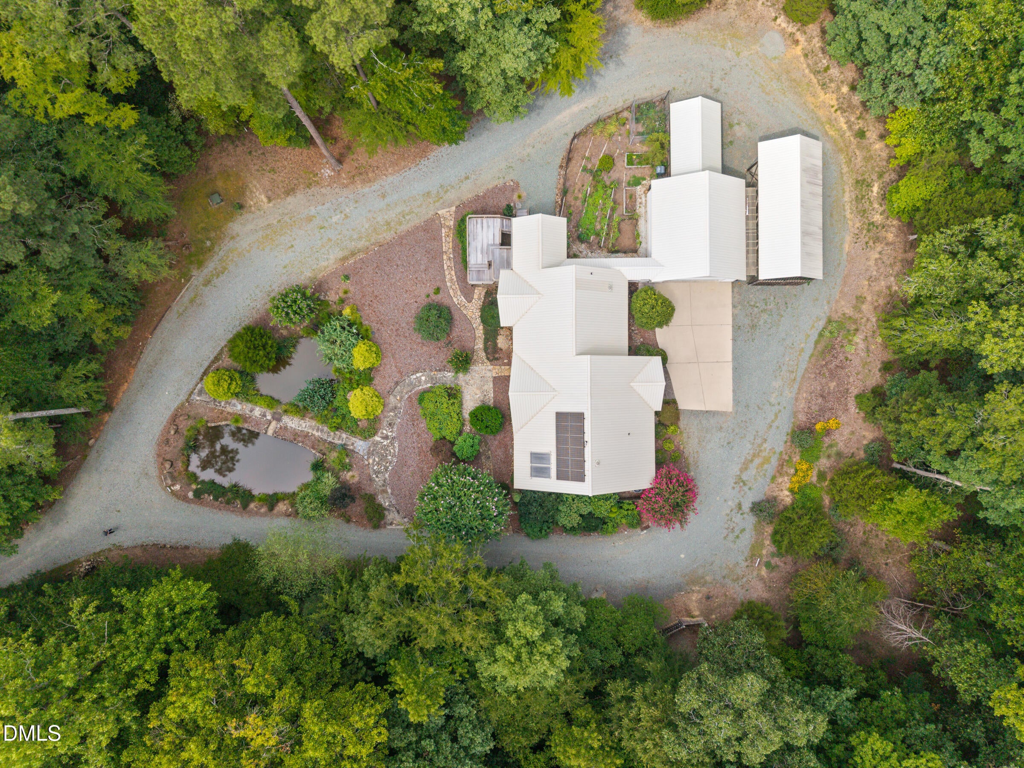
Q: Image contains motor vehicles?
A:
No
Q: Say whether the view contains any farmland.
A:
No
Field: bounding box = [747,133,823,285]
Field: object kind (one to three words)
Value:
barn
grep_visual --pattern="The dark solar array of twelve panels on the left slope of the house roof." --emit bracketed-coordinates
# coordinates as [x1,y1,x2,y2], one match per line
[555,411,589,482]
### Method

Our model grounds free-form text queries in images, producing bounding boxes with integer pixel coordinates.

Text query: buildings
[648,169,747,285]
[747,133,823,285]
[497,213,667,496]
